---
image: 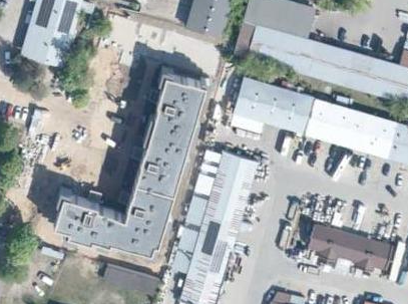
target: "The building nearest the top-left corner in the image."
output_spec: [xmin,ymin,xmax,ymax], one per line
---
[28,106,45,137]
